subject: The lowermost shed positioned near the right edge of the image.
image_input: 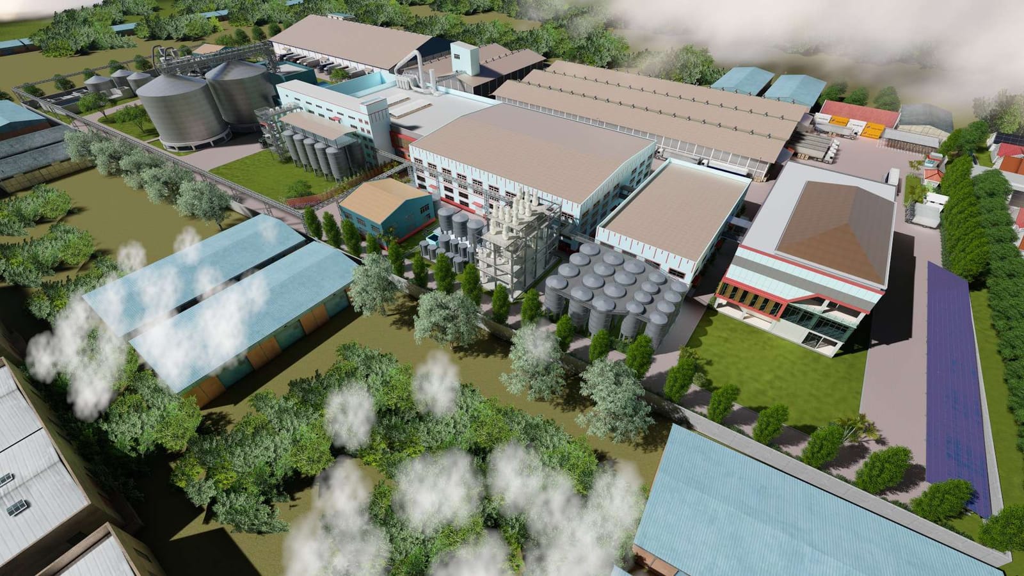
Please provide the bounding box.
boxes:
[636,423,1017,576]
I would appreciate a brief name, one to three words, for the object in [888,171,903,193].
vehicle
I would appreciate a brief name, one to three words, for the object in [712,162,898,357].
building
